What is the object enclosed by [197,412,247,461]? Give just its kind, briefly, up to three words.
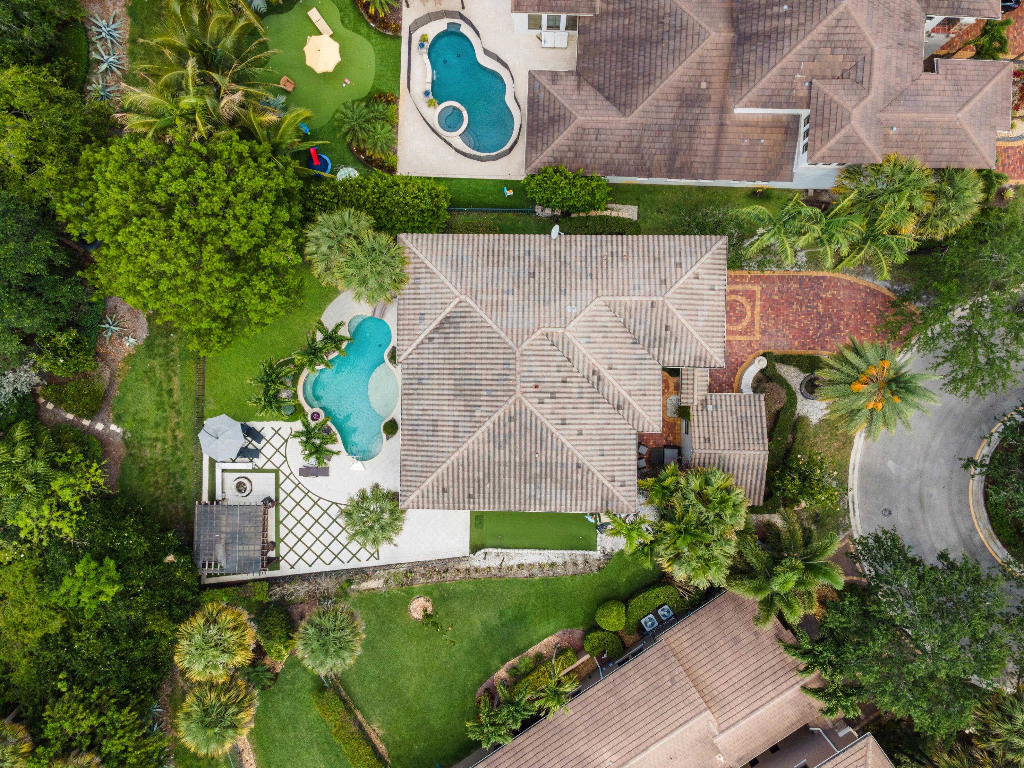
umbrella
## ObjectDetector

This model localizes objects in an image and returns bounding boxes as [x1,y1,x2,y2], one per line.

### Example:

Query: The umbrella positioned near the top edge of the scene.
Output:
[305,37,344,75]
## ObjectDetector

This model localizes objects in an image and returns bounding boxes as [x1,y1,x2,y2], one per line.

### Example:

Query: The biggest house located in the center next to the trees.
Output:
[396,232,729,514]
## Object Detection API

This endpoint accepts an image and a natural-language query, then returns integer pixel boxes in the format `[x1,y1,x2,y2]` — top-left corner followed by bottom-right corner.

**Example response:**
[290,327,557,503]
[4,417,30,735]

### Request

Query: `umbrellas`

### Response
[305,37,344,75]
[197,412,247,461]
[338,166,360,189]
